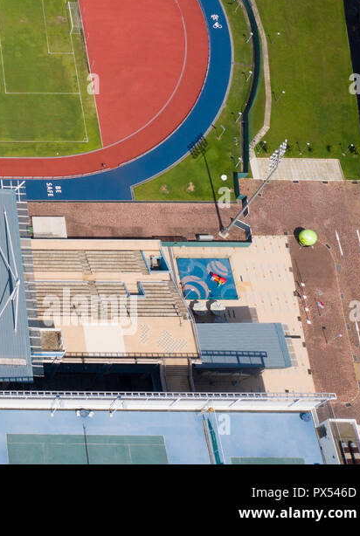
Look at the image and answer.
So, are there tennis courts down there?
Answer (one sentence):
Yes, a tennis court is visible in the scene.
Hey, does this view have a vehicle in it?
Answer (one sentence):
No, I find no vehicle anywhere in the image.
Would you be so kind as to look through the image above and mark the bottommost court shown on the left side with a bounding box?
[2,425,187,530]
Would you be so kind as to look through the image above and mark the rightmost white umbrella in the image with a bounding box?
[214,297,232,313]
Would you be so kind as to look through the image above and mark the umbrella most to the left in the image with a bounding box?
[195,297,213,313]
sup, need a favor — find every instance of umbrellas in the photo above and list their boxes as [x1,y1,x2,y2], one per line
[214,297,232,313]
[195,297,213,313]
